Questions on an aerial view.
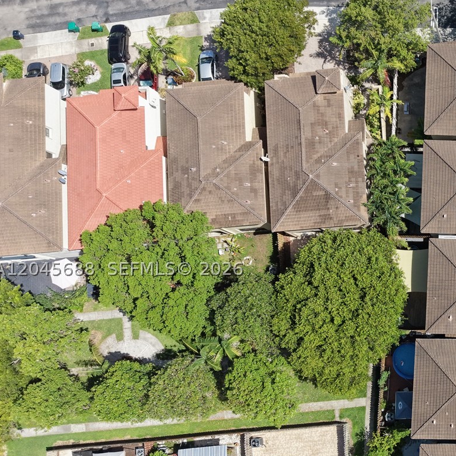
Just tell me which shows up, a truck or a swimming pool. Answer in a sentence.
Of the two, only a swimming pool appears.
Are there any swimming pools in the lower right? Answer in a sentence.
Yes, you'll find a swimming pool in the lower right.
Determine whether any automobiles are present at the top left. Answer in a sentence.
Yes, an automobile can be seen at the top left.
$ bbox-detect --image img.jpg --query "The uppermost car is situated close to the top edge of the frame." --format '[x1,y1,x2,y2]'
[106,22,131,66]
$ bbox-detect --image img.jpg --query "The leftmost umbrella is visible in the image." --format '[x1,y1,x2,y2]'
[48,257,79,289]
